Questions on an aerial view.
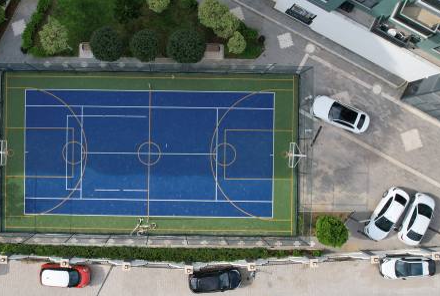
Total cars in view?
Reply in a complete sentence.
The picture shows 6 cars.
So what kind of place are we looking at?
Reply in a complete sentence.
This looks like a sports ground.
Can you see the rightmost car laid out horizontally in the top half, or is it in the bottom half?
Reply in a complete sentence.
The bottom half of the photo is where the rightmost car laid out horizontally is.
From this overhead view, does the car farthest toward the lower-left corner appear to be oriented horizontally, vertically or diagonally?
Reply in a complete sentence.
I'd say the car farthest toward the lower-left corner is aligned horizontally in the picture.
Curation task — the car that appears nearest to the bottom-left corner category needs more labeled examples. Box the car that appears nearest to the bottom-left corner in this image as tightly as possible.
[40,262,91,289]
